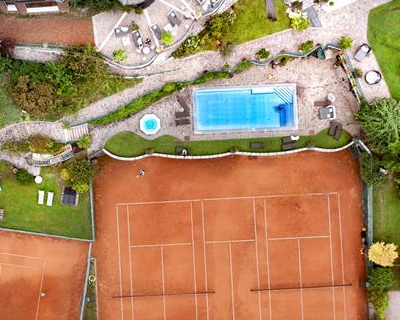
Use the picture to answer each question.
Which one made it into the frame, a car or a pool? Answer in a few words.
pool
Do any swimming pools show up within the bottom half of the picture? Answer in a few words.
No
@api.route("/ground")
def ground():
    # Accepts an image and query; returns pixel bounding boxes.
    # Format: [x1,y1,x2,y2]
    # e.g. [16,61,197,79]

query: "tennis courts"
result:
[0,229,92,320]
[94,153,211,320]
[199,155,260,320]
[251,144,368,320]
